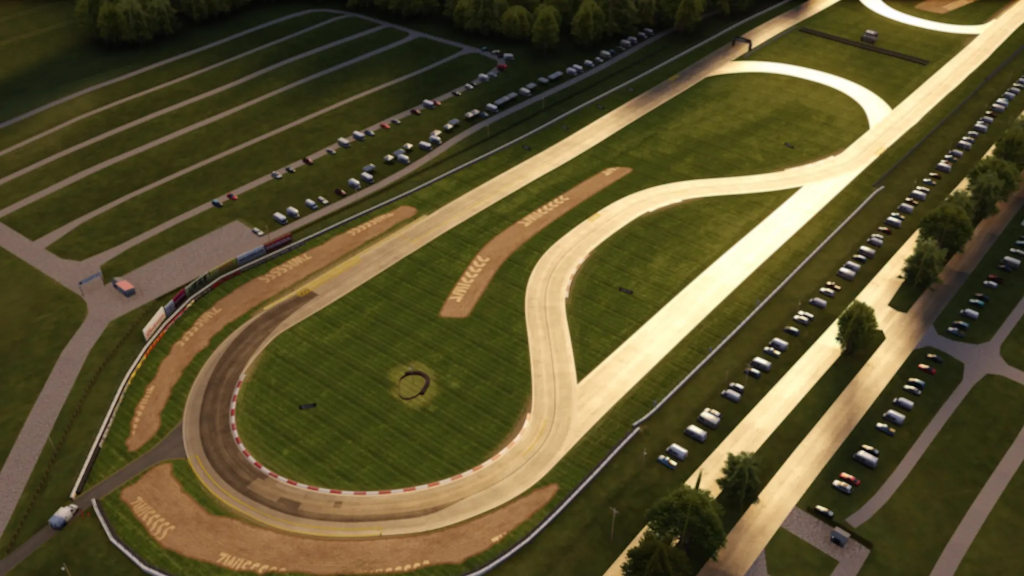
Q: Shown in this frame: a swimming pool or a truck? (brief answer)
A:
truck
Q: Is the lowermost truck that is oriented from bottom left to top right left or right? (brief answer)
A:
left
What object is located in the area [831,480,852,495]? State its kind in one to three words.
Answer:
car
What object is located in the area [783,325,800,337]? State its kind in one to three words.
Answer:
vehicle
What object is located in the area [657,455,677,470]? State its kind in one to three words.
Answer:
car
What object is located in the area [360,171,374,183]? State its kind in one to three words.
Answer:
vehicle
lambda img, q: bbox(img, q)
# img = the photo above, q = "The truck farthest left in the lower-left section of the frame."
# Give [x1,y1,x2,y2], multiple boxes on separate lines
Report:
[41,500,82,532]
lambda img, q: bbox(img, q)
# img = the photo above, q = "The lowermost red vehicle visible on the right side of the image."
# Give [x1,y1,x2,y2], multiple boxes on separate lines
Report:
[838,472,861,487]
